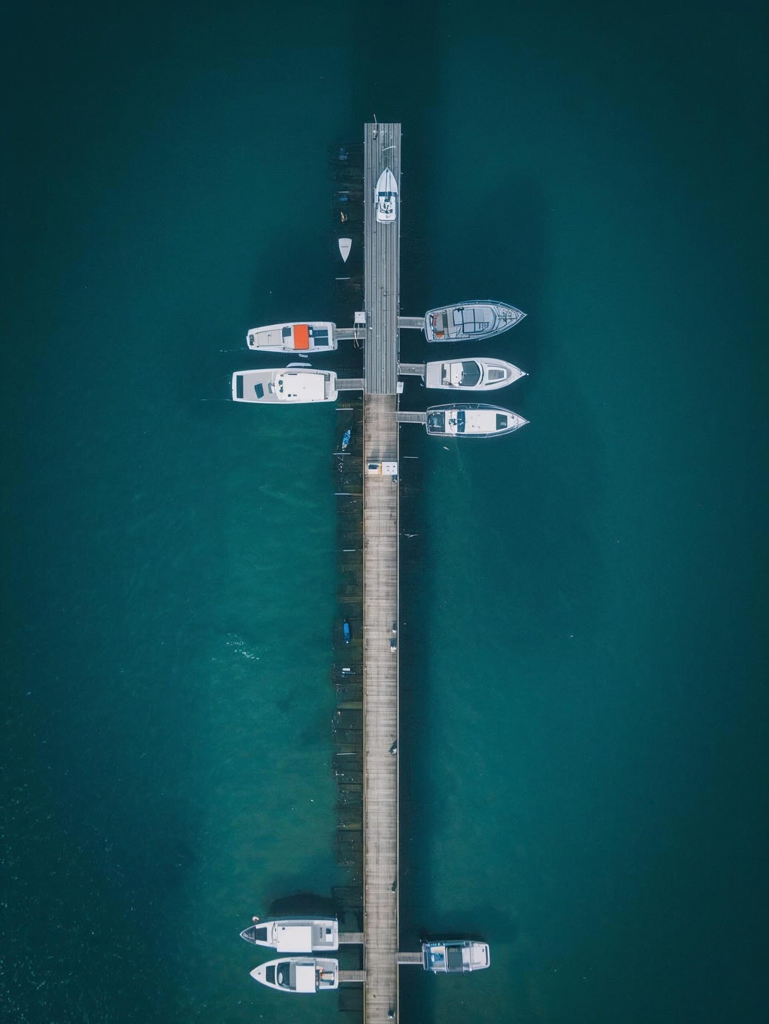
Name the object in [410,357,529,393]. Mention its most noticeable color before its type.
white boat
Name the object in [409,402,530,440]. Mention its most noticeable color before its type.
white boat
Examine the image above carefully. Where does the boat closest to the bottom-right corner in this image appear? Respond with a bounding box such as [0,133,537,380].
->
[406,934,490,973]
